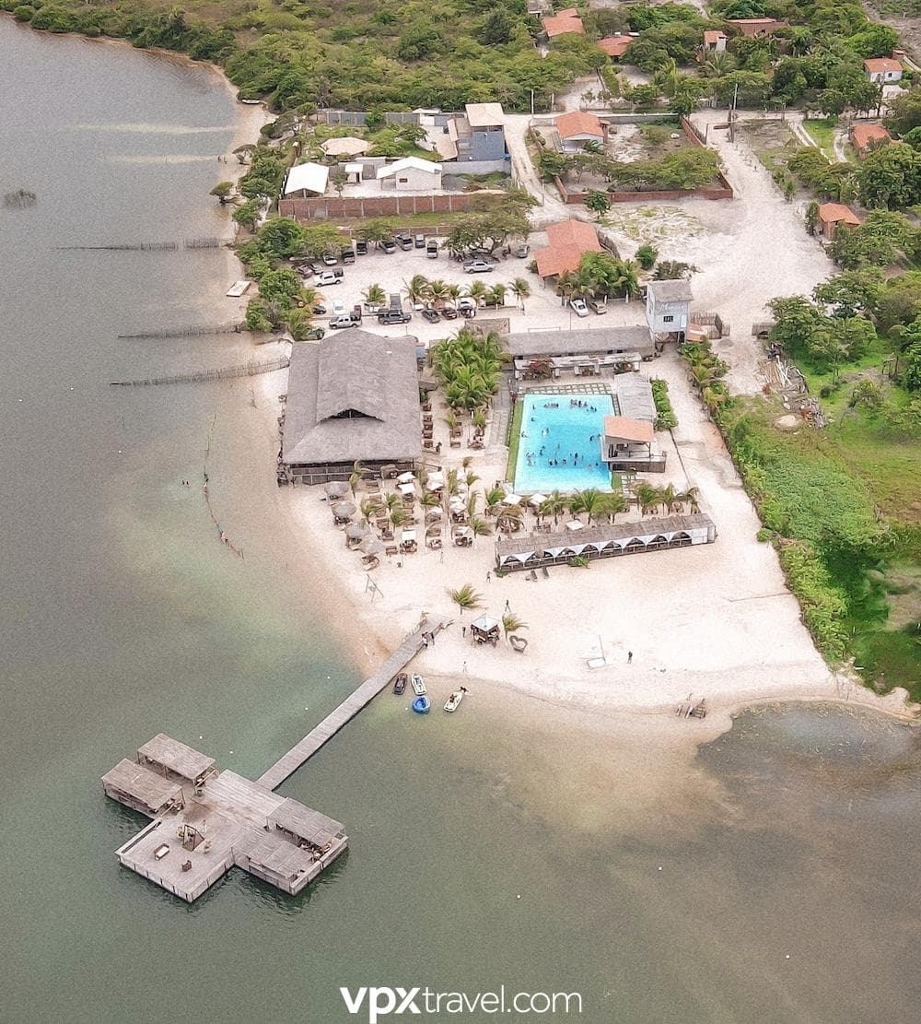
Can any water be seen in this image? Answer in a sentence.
Yes, water can be seen from above here.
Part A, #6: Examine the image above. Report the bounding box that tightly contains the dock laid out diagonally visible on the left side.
[258,612,469,794]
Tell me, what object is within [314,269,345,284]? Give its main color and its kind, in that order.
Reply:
white vehicle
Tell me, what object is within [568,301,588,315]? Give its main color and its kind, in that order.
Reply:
white car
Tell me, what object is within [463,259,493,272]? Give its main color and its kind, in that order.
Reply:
white vehicle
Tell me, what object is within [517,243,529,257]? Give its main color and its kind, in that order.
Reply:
gray vehicle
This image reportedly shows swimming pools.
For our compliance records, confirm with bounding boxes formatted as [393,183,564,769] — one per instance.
[510,392,618,499]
